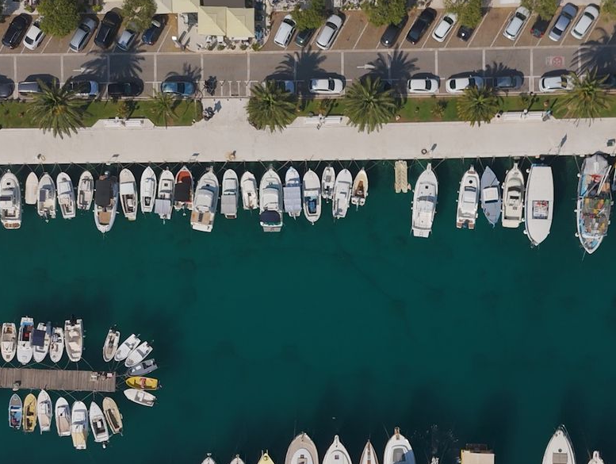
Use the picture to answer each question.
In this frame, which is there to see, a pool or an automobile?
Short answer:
automobile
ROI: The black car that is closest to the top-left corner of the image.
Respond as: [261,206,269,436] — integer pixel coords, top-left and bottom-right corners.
[4,12,34,54]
